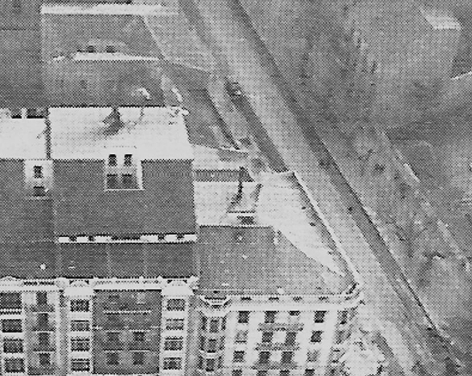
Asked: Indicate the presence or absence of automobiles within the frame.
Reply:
No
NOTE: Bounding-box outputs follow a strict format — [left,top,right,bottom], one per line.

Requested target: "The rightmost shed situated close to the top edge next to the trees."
[354,2,459,102]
